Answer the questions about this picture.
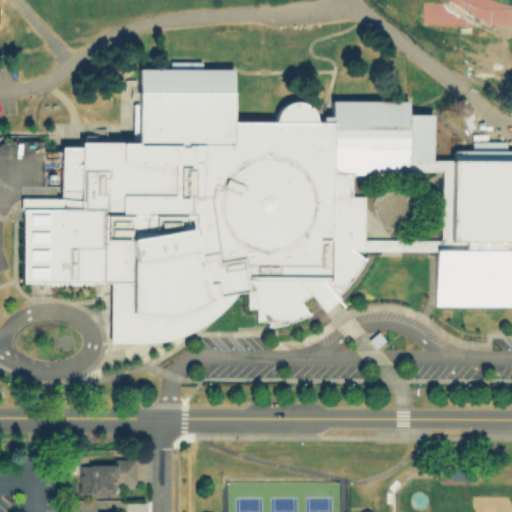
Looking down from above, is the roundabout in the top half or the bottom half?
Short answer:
bottom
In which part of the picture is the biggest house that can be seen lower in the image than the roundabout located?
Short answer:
bottom left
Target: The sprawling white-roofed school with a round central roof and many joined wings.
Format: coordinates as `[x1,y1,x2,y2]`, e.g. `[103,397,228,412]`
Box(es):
[23,62,367,344]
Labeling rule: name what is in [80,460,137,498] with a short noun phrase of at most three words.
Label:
house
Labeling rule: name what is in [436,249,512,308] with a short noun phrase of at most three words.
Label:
building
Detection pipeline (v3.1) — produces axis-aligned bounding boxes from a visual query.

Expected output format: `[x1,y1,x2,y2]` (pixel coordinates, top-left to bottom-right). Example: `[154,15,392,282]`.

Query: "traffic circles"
[0,303,102,380]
